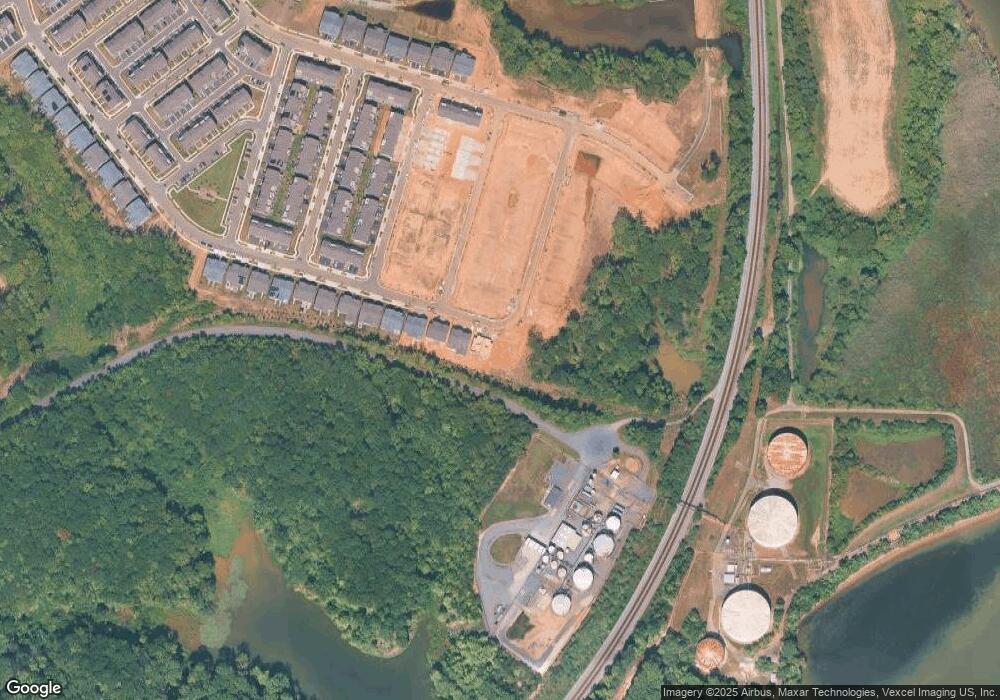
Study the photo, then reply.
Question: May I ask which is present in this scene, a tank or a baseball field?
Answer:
tank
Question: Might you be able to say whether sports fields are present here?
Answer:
No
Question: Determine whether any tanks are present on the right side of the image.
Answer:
Yes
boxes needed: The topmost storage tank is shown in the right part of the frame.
[767,435,809,476]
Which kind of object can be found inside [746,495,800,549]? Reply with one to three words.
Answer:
storage tank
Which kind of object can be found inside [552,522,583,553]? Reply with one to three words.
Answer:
building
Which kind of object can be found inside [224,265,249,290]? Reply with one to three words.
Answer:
house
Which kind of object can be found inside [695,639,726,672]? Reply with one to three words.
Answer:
storage tank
